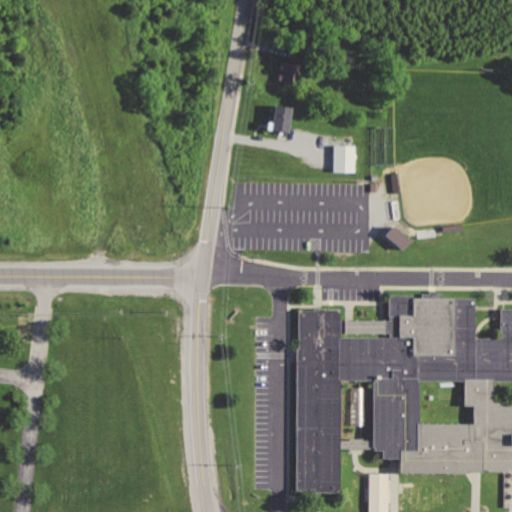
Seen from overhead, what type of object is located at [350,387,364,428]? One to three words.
shed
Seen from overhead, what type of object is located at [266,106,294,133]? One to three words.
house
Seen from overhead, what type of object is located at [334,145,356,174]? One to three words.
building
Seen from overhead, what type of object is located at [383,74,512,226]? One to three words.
baseball field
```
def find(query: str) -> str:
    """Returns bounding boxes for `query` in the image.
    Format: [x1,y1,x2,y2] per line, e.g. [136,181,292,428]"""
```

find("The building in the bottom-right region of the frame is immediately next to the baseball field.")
[297,294,512,493]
